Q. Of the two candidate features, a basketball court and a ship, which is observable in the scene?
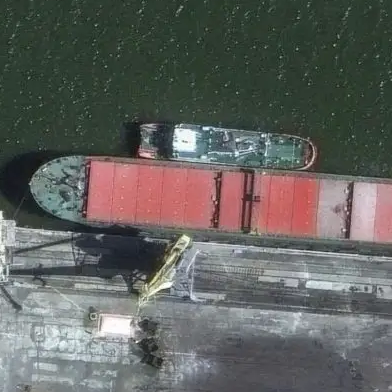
ship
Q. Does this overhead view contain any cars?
No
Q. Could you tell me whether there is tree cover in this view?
No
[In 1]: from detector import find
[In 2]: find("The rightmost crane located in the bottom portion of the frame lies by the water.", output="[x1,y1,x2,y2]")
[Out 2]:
[136,237,206,310]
